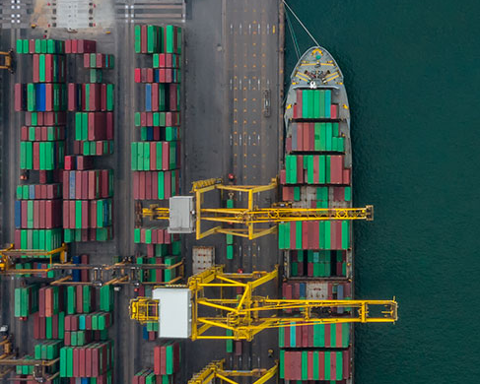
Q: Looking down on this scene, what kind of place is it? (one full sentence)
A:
This image shows a port.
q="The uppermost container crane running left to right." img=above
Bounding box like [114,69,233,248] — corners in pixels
[142,176,376,241]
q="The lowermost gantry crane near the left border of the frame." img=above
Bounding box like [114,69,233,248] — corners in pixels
[0,347,60,383]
